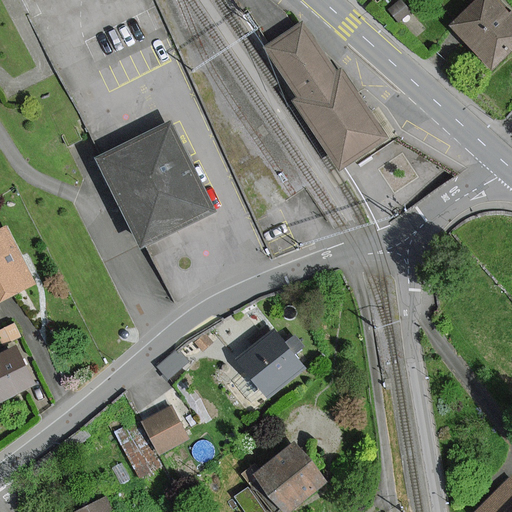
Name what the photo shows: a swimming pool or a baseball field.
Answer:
swimming pool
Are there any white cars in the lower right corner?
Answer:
No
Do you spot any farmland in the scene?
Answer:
No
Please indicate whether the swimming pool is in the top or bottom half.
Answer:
bottom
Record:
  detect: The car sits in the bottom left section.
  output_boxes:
[32,380,45,401]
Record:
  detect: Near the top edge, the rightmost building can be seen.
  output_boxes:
[450,0,512,70]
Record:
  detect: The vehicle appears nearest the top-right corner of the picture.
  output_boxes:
[264,224,288,240]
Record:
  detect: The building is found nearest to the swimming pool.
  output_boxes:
[141,406,190,456]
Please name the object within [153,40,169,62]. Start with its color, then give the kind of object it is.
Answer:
white car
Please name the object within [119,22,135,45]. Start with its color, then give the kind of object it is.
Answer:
white car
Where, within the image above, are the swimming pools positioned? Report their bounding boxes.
[189,440,215,464]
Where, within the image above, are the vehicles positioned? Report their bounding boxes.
[206,186,222,208]
[153,40,169,62]
[96,32,113,54]
[32,380,45,401]
[194,163,208,182]
[106,26,124,50]
[264,224,288,240]
[119,22,135,45]
[127,17,144,40]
